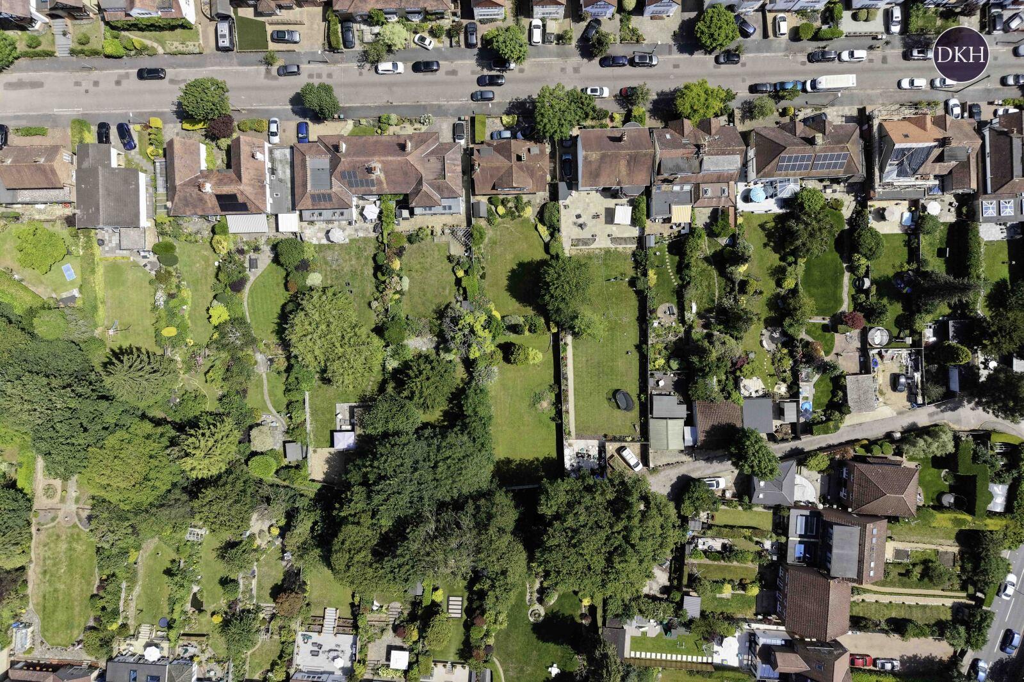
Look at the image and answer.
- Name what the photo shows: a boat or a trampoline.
trampoline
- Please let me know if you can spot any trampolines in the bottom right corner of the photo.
Yes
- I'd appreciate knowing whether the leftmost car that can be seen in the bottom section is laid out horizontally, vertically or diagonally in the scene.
diagonally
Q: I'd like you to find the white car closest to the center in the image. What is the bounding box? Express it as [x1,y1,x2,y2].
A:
[619,445,642,473]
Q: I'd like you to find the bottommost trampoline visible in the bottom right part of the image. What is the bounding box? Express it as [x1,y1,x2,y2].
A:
[940,491,963,508]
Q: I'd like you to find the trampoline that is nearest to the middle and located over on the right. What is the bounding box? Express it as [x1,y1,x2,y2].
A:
[615,391,632,411]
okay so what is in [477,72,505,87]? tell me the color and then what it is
black car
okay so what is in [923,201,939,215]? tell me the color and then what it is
white umbrella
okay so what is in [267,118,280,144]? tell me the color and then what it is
white vehicle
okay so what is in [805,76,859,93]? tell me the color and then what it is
white vehicle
